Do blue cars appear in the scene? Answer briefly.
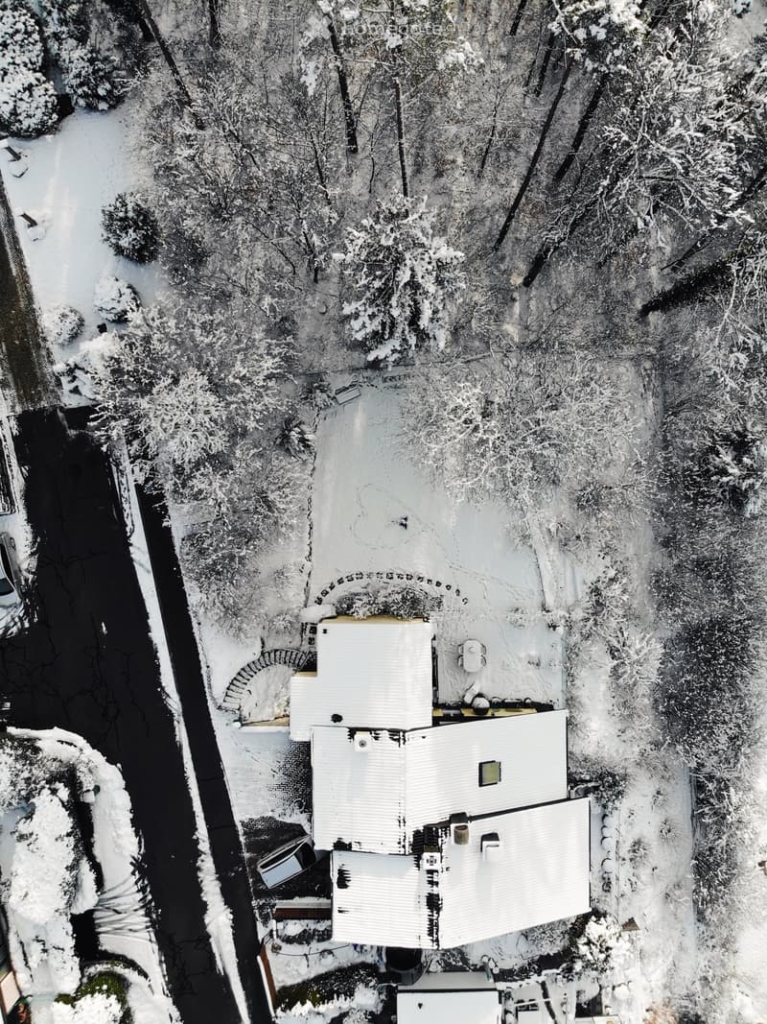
No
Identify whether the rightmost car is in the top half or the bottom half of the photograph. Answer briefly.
bottom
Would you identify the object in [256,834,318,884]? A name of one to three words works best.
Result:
car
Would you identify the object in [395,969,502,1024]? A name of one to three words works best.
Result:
building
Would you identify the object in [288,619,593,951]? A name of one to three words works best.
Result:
house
